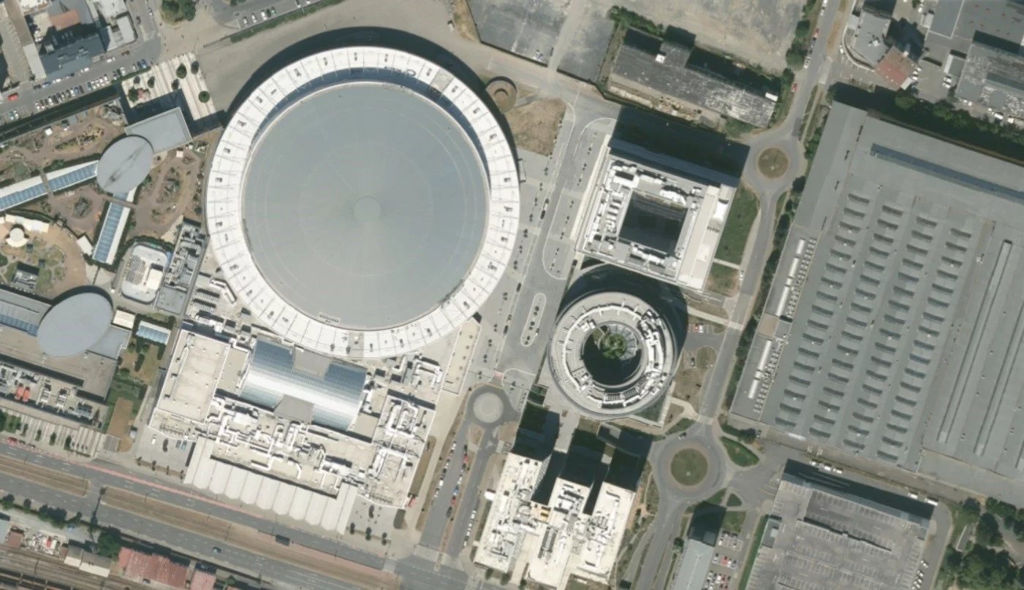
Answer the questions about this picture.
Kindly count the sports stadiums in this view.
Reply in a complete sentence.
I count 1 sports stadium.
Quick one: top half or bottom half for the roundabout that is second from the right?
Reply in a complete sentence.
The roundabout that is second from the right is in the bottom half of the image.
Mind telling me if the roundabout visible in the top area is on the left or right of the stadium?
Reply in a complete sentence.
The roundabout visible in the top area is to the right of the stadium.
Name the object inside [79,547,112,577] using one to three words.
shed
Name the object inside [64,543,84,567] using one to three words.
shed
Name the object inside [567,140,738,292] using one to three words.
building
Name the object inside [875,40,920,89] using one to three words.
house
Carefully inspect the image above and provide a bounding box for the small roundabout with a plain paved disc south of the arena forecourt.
[464,382,512,425]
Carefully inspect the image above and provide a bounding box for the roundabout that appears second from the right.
[652,430,725,497]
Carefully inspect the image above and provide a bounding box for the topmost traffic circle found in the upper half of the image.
[746,135,800,189]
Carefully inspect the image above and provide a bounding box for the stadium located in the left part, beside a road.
[207,46,526,359]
